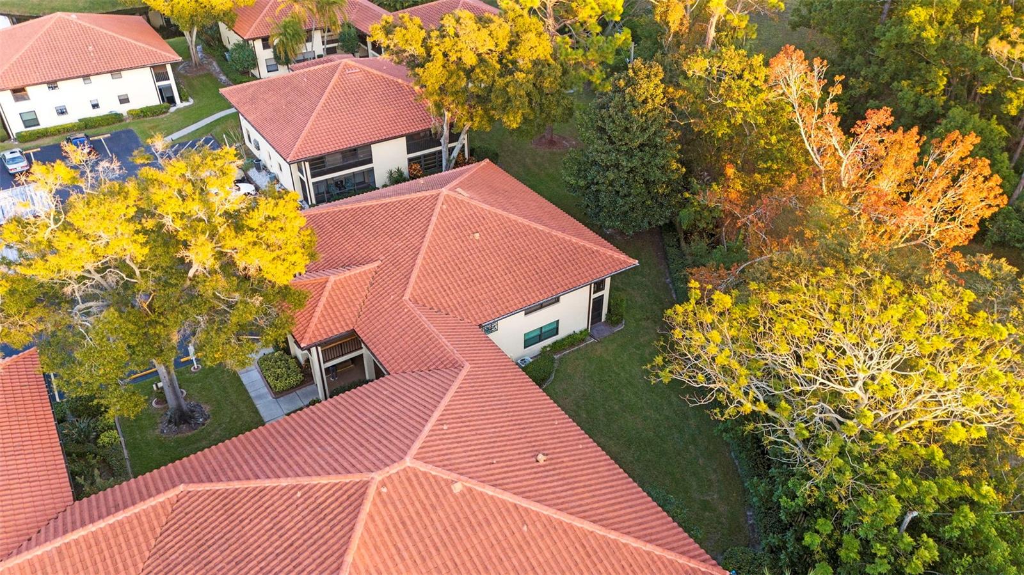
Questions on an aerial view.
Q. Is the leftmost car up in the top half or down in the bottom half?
top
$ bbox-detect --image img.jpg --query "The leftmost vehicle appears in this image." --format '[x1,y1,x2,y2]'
[0,148,26,170]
